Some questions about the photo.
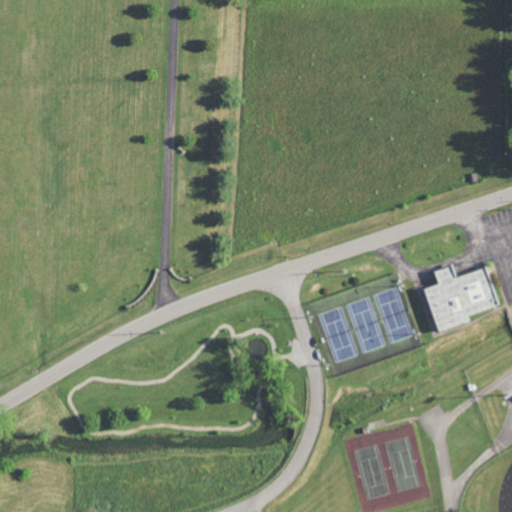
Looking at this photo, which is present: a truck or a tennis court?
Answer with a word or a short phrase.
tennis court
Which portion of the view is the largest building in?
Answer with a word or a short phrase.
right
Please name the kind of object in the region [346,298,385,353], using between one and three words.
tennis court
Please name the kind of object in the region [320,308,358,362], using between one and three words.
tennis court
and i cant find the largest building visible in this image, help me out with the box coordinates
[424,264,500,332]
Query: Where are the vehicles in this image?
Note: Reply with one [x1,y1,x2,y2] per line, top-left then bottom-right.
[316,348,322,358]
[312,336,318,347]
